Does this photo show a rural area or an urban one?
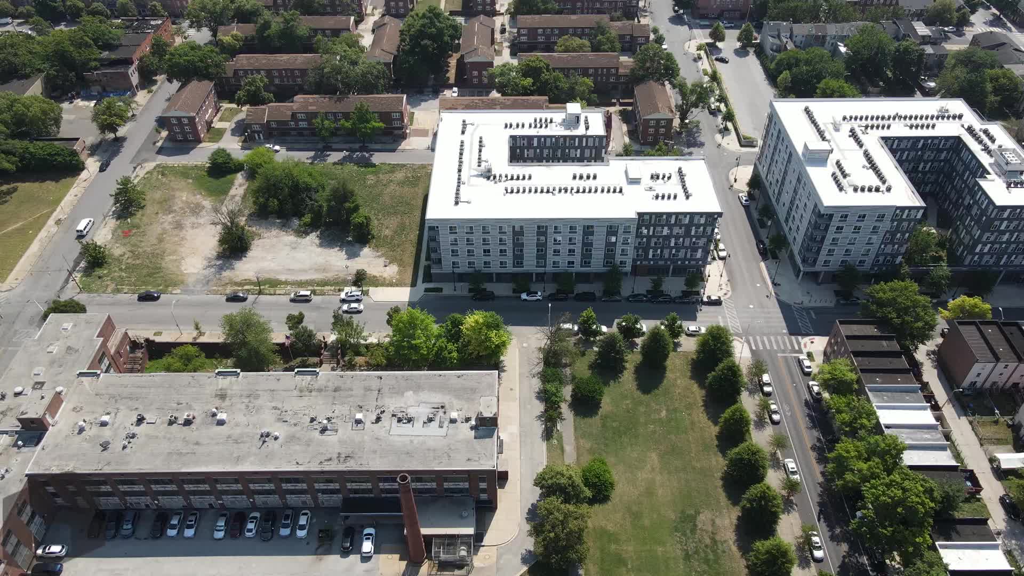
urban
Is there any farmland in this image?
No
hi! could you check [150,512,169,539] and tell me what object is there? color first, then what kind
black car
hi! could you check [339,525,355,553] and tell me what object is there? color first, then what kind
black car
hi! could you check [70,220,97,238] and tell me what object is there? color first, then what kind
white vehicle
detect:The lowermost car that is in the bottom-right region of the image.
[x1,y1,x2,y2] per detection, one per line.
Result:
[806,533,826,562]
